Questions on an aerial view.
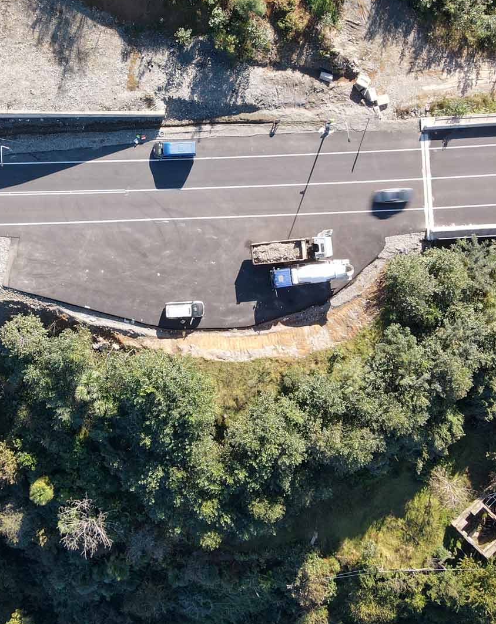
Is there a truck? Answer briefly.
Yes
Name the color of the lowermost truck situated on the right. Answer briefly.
white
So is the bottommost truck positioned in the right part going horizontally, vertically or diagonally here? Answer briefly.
horizontally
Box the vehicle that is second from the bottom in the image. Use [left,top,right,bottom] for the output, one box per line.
[268,259,355,292]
